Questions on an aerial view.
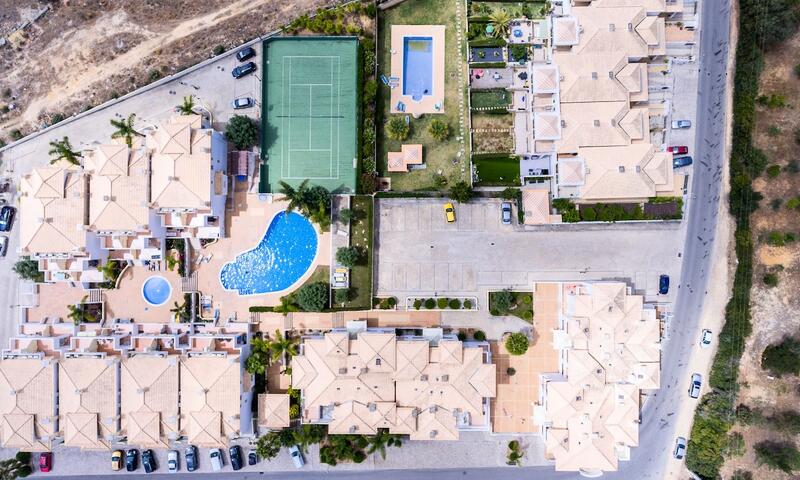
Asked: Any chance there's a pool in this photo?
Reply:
Yes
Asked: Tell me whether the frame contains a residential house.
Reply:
Yes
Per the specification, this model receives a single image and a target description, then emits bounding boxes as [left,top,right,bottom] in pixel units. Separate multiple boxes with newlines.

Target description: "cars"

[0,206,16,230]
[167,450,179,471]
[127,447,139,469]
[112,449,123,470]
[141,450,157,473]
[40,452,52,471]
[232,62,256,79]
[233,97,254,109]
[670,120,690,129]
[666,145,687,155]
[209,450,223,471]
[673,435,687,459]
[687,373,702,399]
[501,202,511,224]
[0,235,9,256]
[290,446,305,469]
[247,449,258,466]
[184,446,198,471]
[658,274,670,294]
[237,47,256,61]
[445,202,455,223]
[229,446,242,471]
[673,156,692,167]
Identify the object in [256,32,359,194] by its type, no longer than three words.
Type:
tennis court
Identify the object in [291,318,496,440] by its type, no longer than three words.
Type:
building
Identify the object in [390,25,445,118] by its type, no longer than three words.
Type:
swimming pool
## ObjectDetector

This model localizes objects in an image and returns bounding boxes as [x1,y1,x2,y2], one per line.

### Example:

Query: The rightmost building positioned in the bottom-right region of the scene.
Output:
[529,282,660,480]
